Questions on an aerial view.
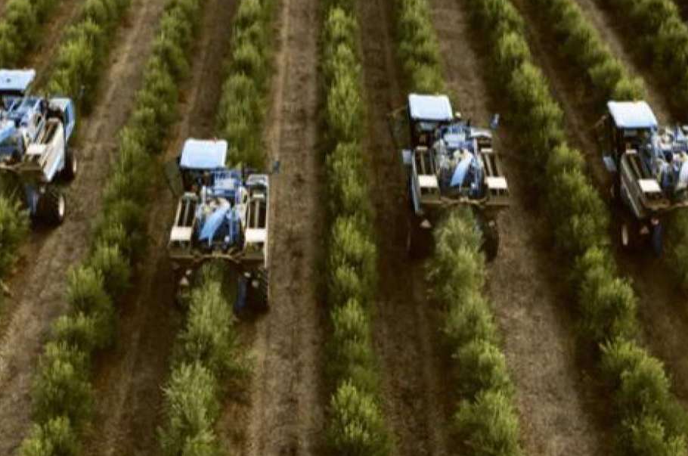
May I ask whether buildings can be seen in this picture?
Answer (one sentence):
No, the scene contains no building.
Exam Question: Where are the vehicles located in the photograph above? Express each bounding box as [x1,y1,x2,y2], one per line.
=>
[161,135,281,315]
[591,96,688,259]
[387,97,504,261]
[0,69,82,220]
